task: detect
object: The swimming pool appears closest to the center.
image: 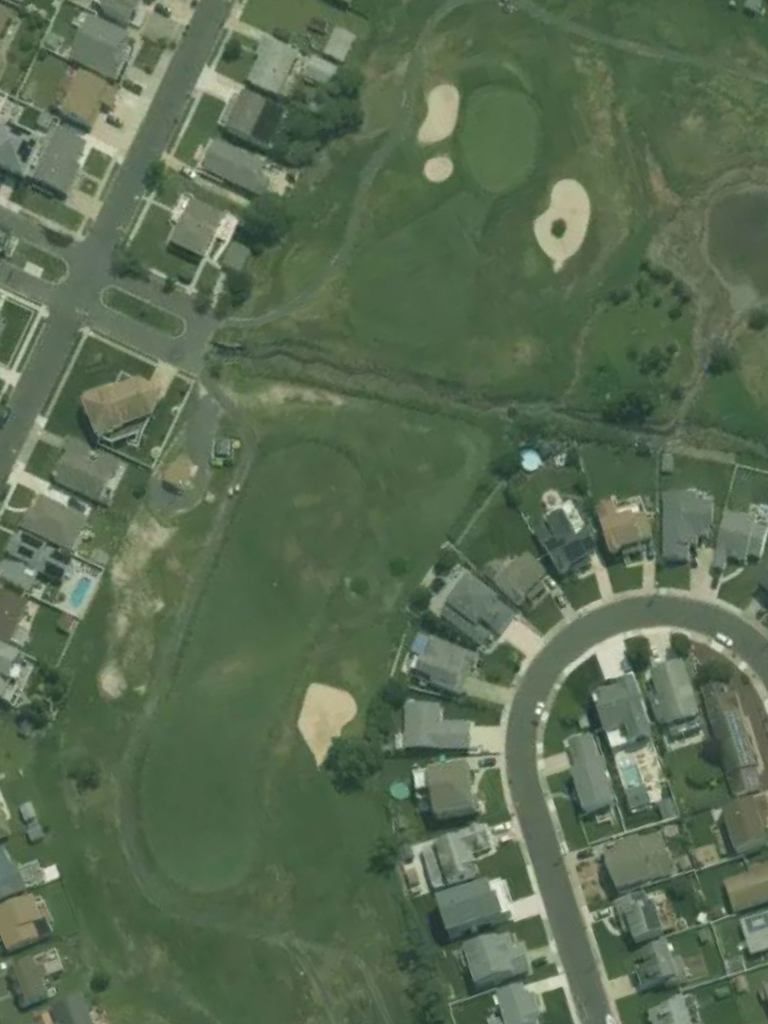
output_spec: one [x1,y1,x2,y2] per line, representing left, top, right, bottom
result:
[520,449,542,470]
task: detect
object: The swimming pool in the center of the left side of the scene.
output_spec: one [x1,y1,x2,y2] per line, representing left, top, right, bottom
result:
[69,574,95,609]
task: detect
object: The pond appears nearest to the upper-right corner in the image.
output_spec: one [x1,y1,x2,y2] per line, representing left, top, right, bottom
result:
[705,183,768,302]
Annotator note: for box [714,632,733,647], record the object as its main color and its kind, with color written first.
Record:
white vehicle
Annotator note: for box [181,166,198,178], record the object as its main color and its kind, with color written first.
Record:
white vehicle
